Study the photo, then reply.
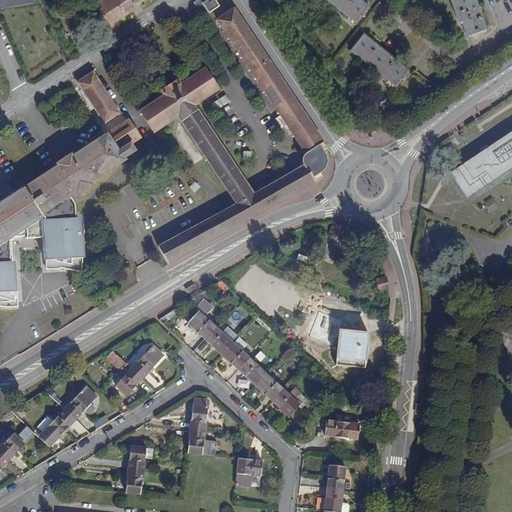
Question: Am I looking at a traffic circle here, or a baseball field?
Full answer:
Visible in the photo is a traffic circle.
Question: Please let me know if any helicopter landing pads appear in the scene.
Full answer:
No, I can see no helicopter landing pad in this picture.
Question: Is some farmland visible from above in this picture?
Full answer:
No, no farmland is visible.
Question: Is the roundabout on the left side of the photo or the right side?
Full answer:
The roundabout sits on the right side.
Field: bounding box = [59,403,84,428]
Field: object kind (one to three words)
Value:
house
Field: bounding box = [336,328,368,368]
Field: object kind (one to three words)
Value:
building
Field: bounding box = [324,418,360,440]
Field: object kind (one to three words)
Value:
house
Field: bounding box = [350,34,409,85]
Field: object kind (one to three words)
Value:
building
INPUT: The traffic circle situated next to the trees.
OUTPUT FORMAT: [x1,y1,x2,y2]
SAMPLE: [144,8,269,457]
[334,148,406,220]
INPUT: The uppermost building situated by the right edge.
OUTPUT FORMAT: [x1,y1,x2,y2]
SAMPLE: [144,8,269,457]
[450,0,487,40]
